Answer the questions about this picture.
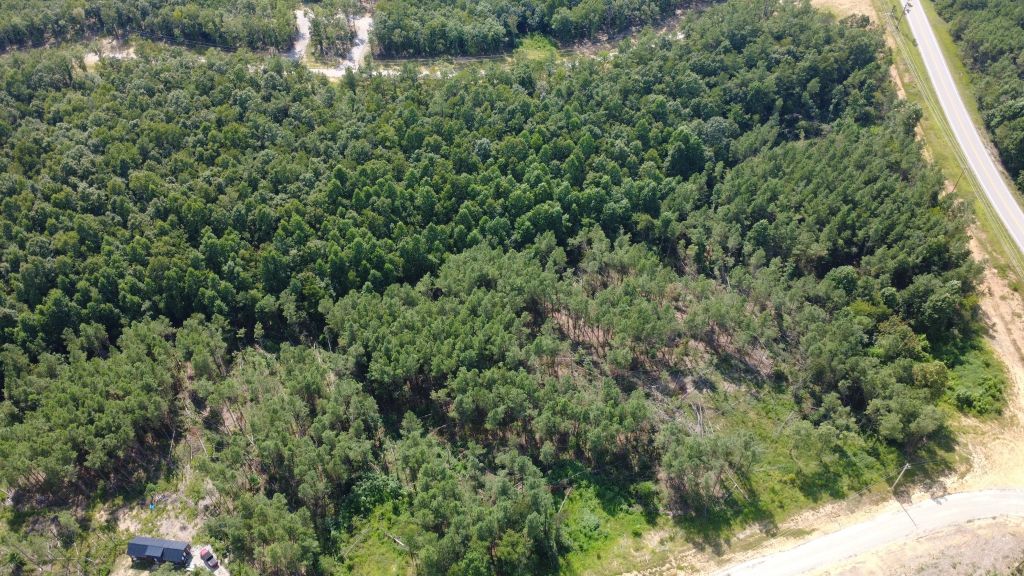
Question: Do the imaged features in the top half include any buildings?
No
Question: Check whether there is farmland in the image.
No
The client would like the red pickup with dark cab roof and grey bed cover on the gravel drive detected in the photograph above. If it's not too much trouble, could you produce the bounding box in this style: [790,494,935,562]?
[199,547,218,567]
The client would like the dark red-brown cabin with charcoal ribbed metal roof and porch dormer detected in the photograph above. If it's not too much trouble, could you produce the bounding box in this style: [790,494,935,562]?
[125,536,196,569]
